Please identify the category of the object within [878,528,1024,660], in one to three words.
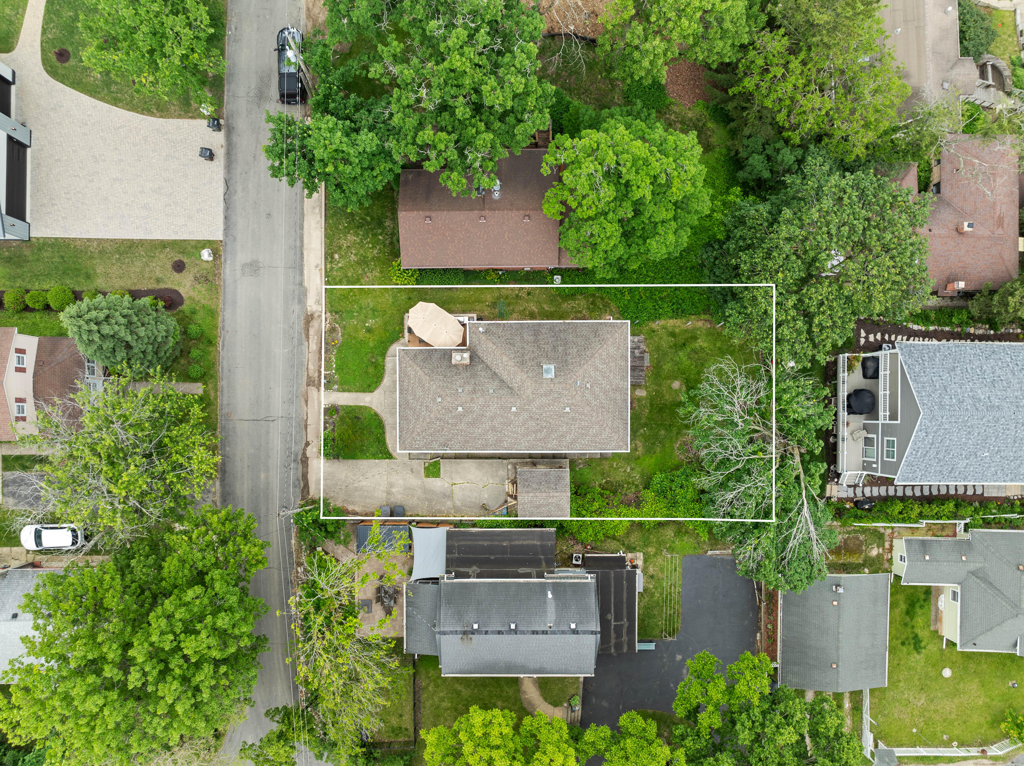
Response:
building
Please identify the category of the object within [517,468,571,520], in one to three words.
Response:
shed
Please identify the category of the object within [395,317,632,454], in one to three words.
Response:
house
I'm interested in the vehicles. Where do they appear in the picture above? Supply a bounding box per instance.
[272,29,308,108]
[24,521,86,553]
